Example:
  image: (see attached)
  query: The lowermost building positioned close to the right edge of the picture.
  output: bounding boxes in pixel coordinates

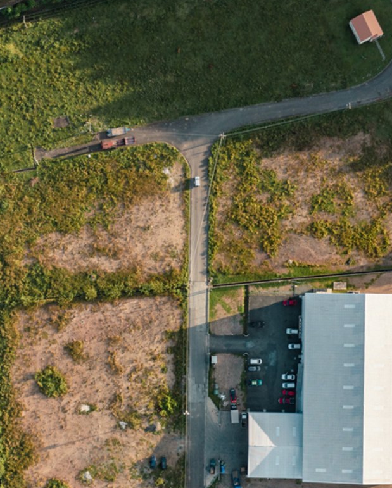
[295,293,392,486]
